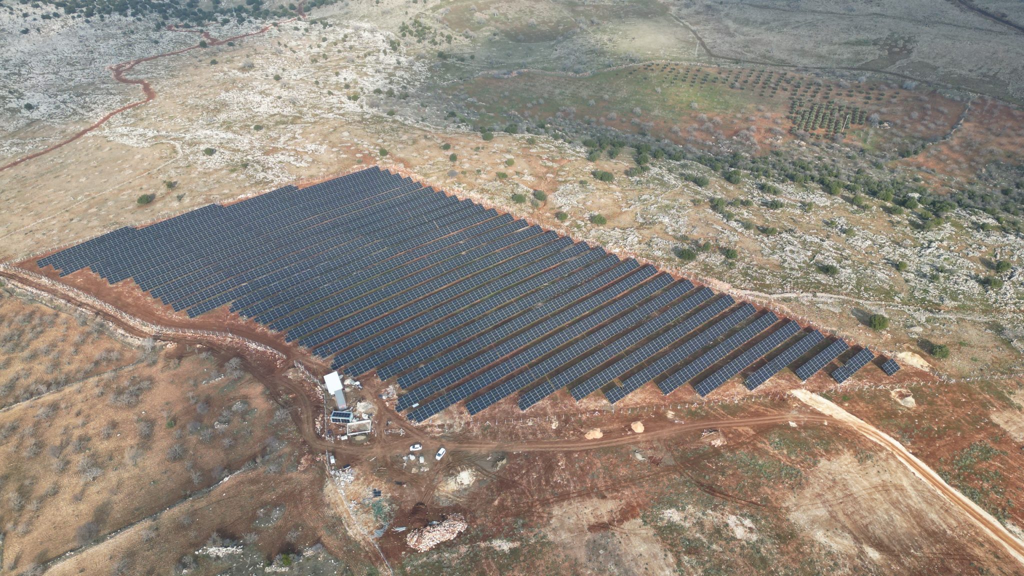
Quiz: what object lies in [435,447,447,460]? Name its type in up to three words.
vehicle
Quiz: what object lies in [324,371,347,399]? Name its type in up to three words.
shed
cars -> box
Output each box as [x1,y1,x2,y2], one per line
[435,447,447,460]
[408,443,424,453]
